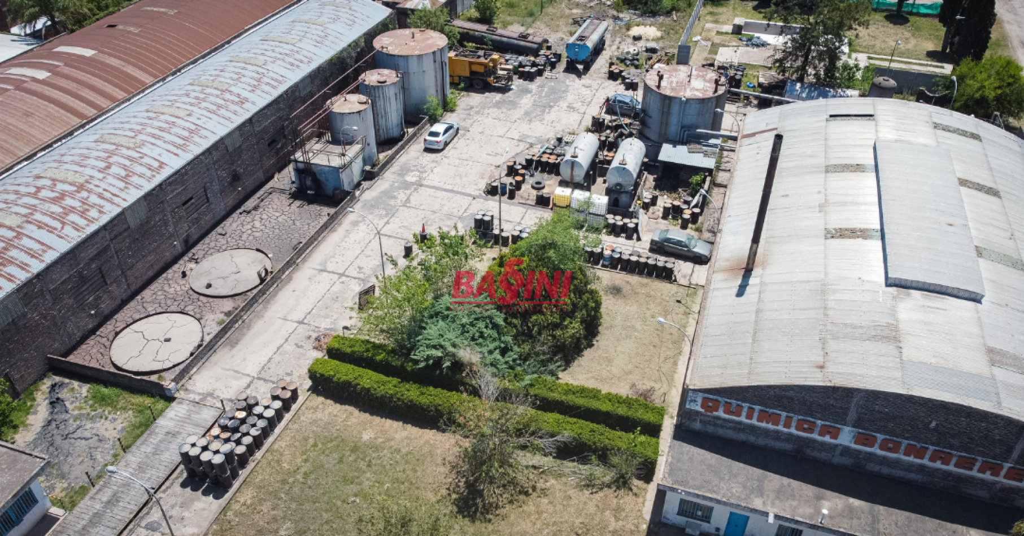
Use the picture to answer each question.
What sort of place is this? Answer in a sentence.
The picture captures an industrial area.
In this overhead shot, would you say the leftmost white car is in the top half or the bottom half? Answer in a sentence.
The top half of the photo is where the leftmost white car is.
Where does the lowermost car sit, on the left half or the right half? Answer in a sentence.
The lowermost car sits on the right side.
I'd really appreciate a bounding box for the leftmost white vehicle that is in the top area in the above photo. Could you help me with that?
[423,118,464,147]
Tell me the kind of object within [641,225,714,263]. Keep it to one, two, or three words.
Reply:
car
